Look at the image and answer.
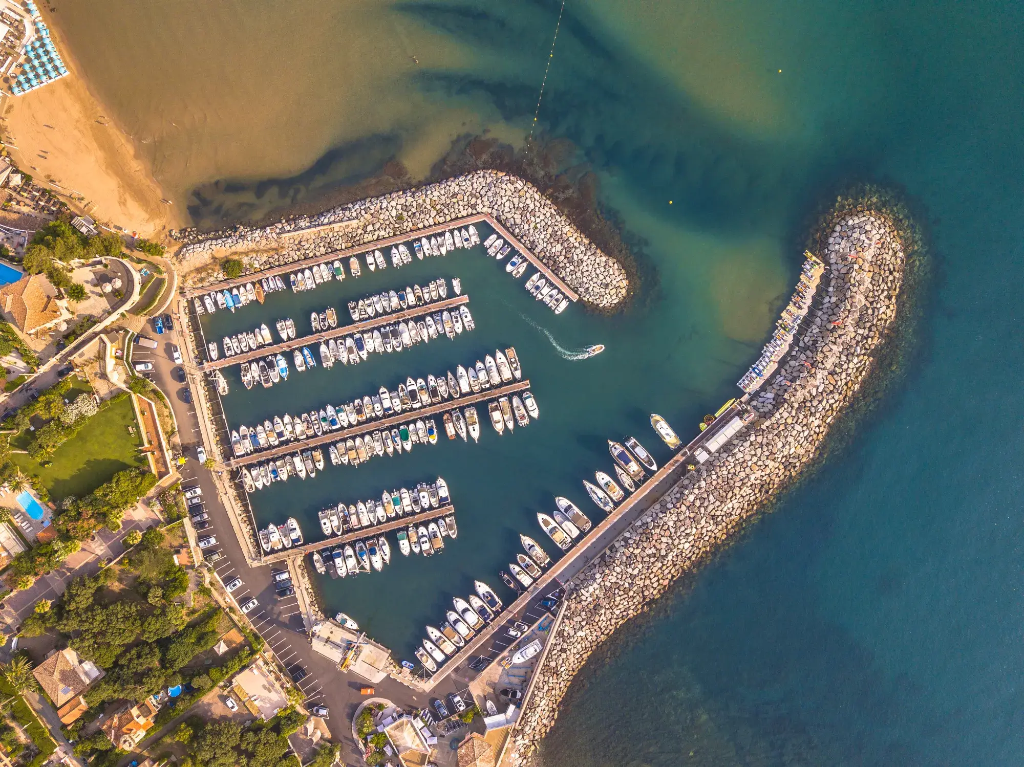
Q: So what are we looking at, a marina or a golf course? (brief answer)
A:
marina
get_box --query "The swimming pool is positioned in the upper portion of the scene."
[0,262,25,286]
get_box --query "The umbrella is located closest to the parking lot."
[111,367,125,381]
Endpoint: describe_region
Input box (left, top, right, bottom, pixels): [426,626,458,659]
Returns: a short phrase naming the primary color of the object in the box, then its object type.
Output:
white boat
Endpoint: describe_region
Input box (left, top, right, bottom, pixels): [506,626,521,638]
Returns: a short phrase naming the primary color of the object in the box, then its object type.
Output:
white vehicle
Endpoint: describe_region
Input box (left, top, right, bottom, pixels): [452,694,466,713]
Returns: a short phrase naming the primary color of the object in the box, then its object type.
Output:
white vehicle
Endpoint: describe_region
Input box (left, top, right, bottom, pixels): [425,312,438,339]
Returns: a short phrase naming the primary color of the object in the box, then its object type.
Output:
white boat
